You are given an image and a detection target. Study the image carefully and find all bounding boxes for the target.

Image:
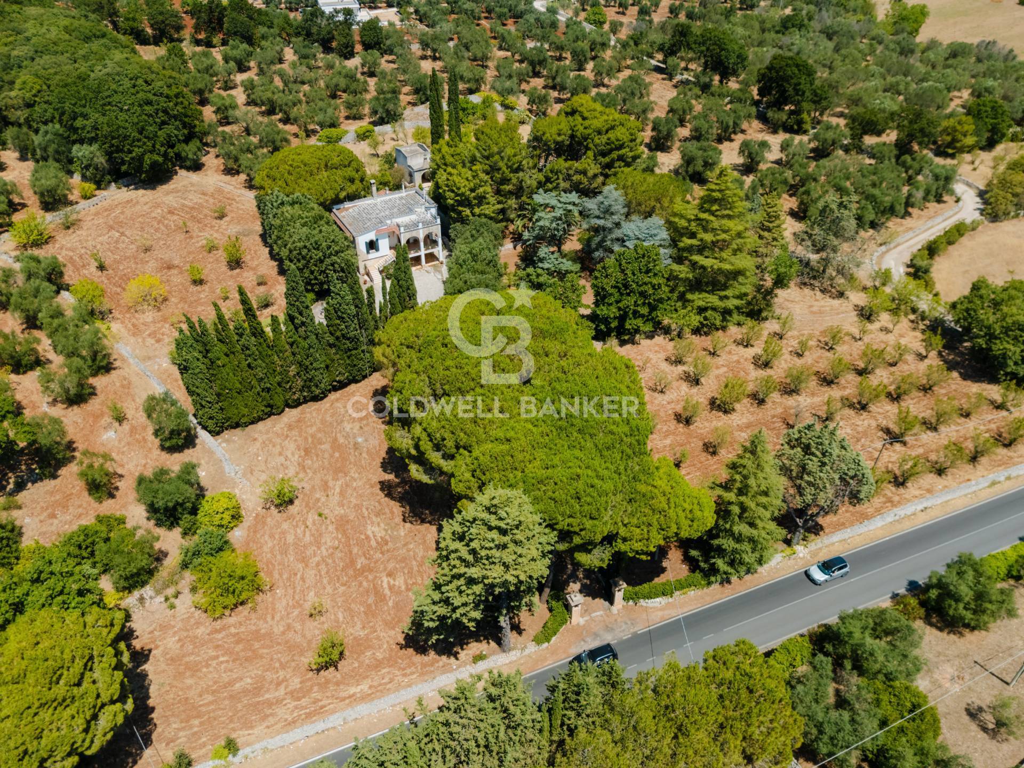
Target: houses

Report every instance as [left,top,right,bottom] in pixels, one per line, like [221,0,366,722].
[301,0,417,26]
[331,179,442,284]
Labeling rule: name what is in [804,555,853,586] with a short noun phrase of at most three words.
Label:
car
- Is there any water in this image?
No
